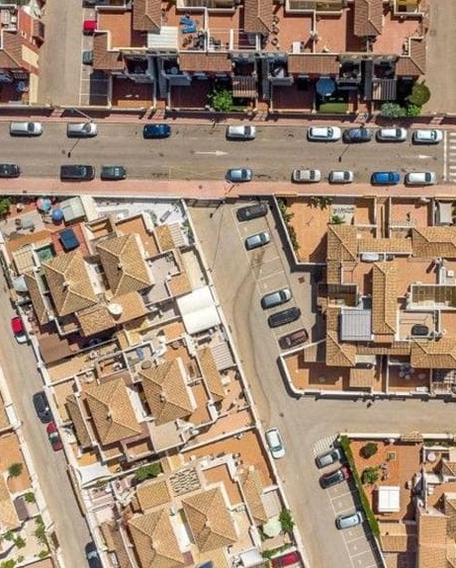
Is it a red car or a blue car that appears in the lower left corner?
red car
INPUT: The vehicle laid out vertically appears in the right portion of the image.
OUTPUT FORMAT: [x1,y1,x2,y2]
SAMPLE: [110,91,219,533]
[266,429,284,458]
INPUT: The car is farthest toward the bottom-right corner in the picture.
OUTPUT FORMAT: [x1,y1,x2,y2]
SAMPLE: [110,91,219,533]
[335,511,363,529]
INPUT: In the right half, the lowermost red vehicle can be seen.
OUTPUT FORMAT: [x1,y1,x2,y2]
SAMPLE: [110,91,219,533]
[270,549,302,568]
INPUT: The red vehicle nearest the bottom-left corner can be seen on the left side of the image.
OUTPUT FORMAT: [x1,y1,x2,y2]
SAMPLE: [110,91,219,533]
[44,421,64,450]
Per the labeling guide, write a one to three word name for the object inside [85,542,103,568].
car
